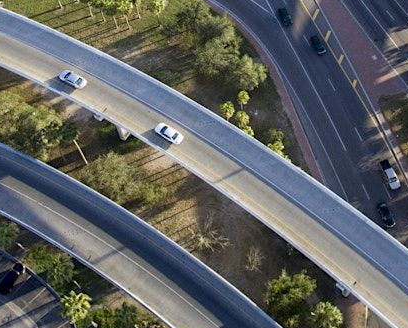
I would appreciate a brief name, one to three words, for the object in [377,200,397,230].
car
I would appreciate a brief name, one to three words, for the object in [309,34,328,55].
car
